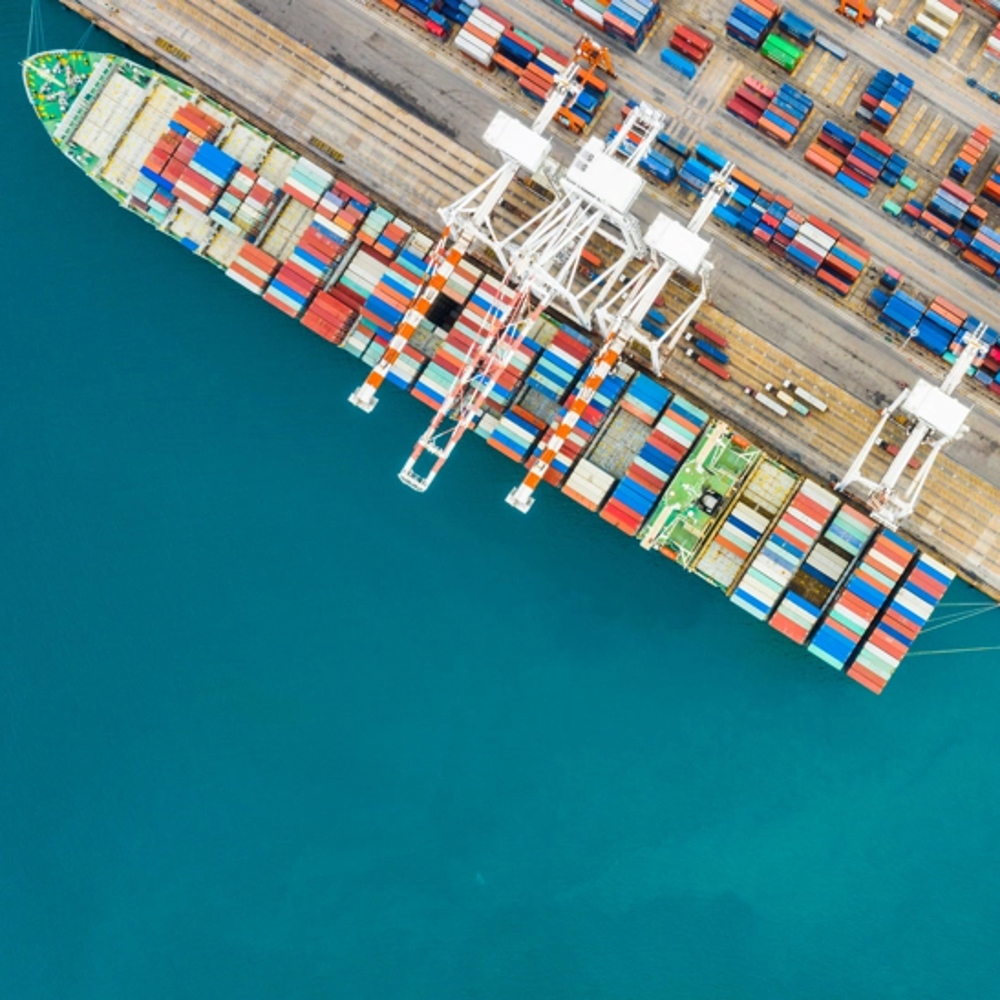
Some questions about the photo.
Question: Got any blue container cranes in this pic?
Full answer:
No, there is no blue container crane in the image.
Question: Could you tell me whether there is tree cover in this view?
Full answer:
No, the scene doesn't show any tree cover.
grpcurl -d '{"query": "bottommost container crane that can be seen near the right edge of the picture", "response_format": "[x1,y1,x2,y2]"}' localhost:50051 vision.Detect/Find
[831,324,992,533]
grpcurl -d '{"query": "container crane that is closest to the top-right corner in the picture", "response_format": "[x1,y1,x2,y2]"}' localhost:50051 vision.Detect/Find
[835,0,872,32]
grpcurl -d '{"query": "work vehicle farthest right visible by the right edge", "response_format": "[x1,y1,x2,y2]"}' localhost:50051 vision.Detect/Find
[964,71,1000,104]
